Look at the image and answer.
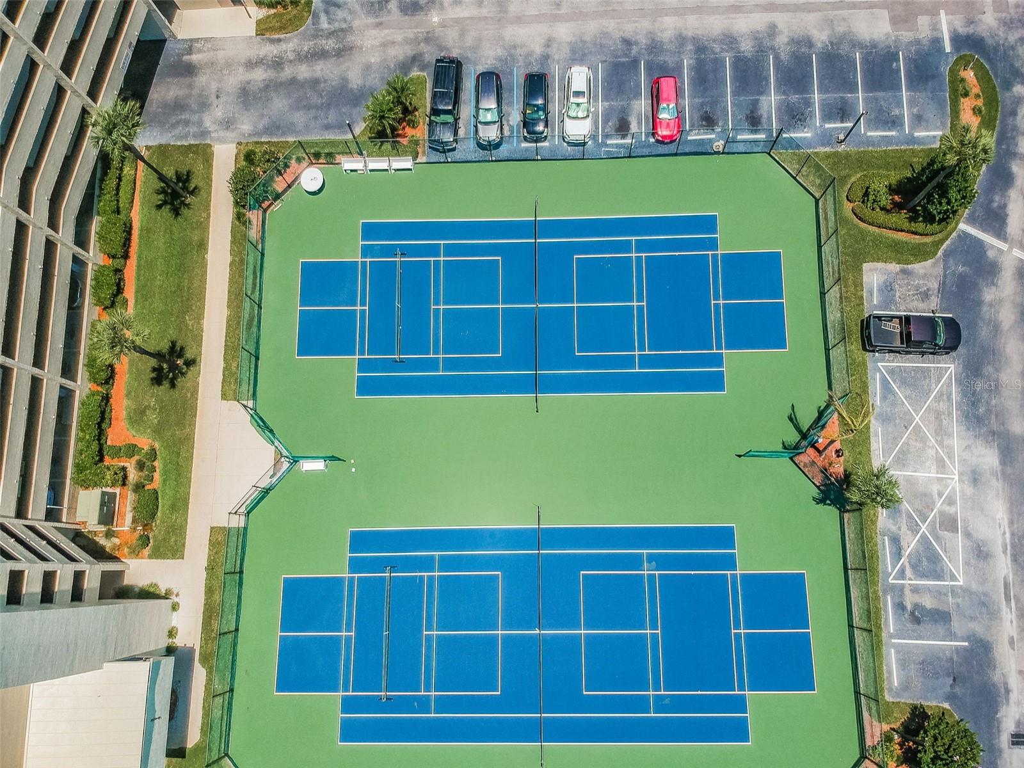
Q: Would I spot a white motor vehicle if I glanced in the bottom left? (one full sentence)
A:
No, in the bottom left there is no white motor vehicle.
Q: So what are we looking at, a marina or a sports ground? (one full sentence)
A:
The picture captures a sports ground.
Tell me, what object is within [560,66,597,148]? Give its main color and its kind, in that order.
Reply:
white car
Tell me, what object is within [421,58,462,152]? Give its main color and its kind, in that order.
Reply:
black car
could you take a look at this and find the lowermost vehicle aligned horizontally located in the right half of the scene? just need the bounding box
[858,310,963,354]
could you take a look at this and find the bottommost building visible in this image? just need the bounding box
[0,651,179,768]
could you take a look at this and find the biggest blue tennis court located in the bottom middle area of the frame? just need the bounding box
[339,526,751,744]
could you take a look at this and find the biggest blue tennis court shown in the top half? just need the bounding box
[354,213,728,399]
